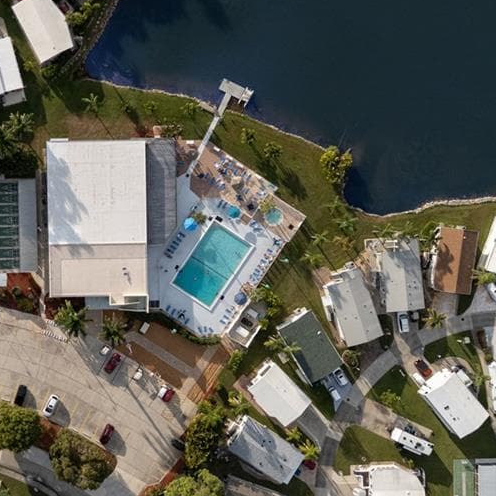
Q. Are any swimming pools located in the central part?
Yes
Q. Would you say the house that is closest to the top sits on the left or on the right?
left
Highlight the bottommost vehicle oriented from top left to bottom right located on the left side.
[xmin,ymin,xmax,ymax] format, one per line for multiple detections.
[167,436,186,453]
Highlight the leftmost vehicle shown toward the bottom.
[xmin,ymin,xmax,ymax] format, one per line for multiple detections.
[14,382,28,403]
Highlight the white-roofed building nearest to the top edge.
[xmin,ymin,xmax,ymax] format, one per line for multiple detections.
[12,0,74,65]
